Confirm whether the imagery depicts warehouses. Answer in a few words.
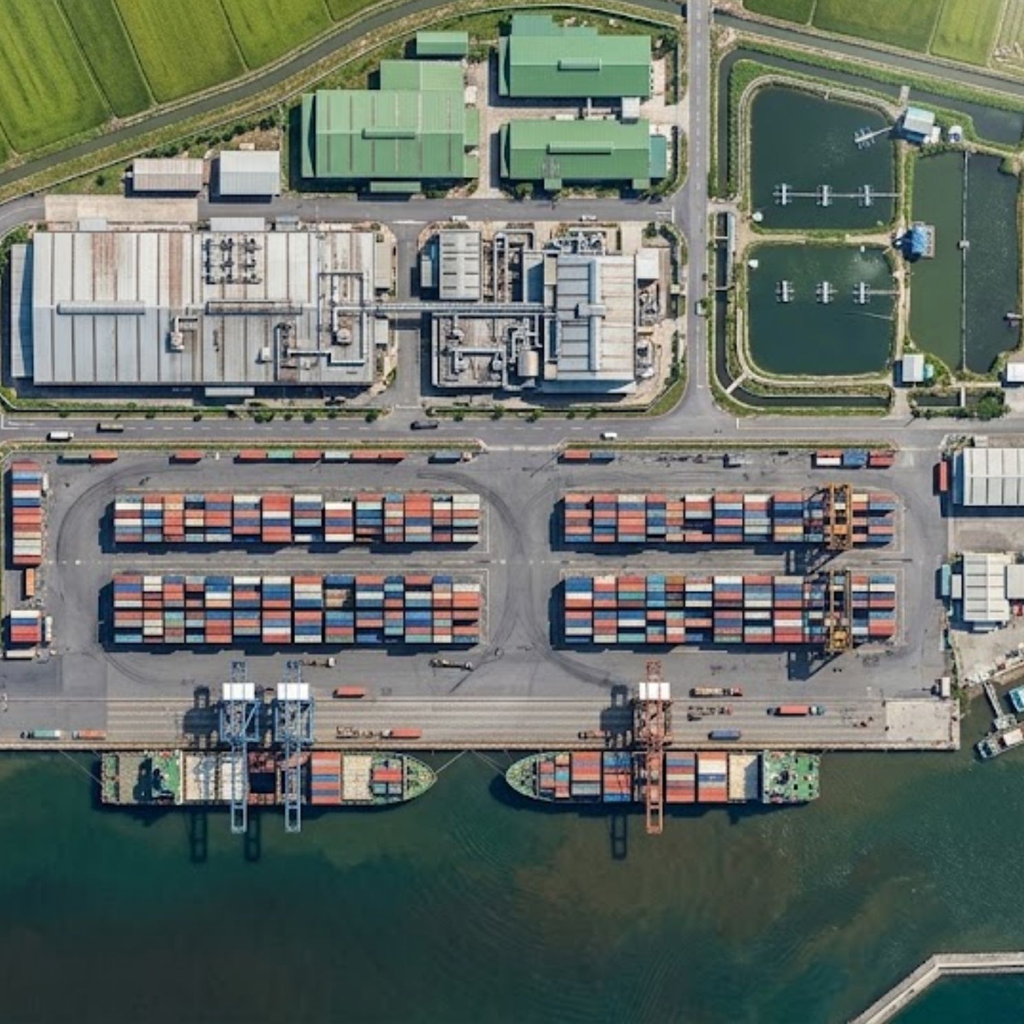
Yes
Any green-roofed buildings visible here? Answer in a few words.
Yes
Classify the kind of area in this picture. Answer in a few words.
port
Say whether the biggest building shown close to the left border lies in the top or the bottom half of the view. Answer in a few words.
top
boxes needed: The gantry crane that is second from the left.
[270,662,315,834]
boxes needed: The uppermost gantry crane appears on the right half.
[823,483,856,550]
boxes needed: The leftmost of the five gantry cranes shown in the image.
[216,662,262,834]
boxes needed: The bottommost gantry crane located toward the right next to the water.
[632,662,677,834]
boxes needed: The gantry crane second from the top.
[823,570,856,652]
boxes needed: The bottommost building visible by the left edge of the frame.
[11,217,390,396]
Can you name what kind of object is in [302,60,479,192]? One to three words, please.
warehouse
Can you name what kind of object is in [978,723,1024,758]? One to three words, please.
boat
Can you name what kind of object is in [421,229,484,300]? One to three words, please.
building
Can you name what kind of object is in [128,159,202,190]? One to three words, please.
shed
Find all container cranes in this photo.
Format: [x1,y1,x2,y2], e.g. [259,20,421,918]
[823,483,856,550]
[823,570,856,652]
[632,662,677,834]
[216,662,262,834]
[270,662,315,834]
